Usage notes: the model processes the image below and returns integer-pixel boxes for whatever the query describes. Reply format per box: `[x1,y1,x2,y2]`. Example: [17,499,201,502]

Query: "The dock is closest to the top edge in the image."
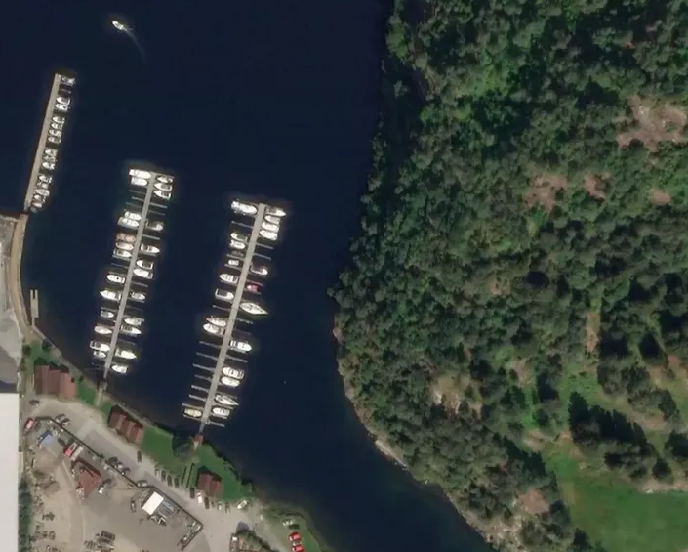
[23,74,62,211]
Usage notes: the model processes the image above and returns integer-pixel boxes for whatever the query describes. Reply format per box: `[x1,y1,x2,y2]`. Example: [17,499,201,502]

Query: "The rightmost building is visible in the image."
[198,471,222,497]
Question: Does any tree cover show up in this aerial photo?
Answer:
Yes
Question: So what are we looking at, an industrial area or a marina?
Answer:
marina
